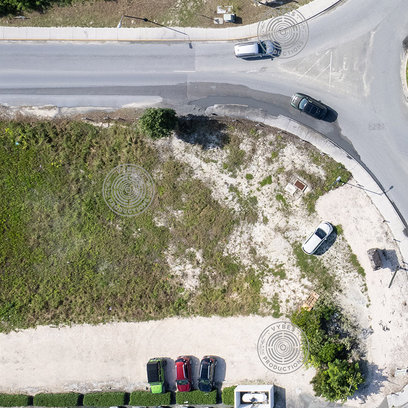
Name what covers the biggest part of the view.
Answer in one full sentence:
The bulk of the photo consists of paved ground.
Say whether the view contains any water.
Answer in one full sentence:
No, water can't be seen anywhere here.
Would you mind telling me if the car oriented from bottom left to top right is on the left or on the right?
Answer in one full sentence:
The car oriented from bottom left to top right sits on the right side.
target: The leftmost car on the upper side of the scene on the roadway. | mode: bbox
[234,42,281,60]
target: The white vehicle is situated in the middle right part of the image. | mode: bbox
[301,220,334,257]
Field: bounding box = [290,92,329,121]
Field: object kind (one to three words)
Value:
car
